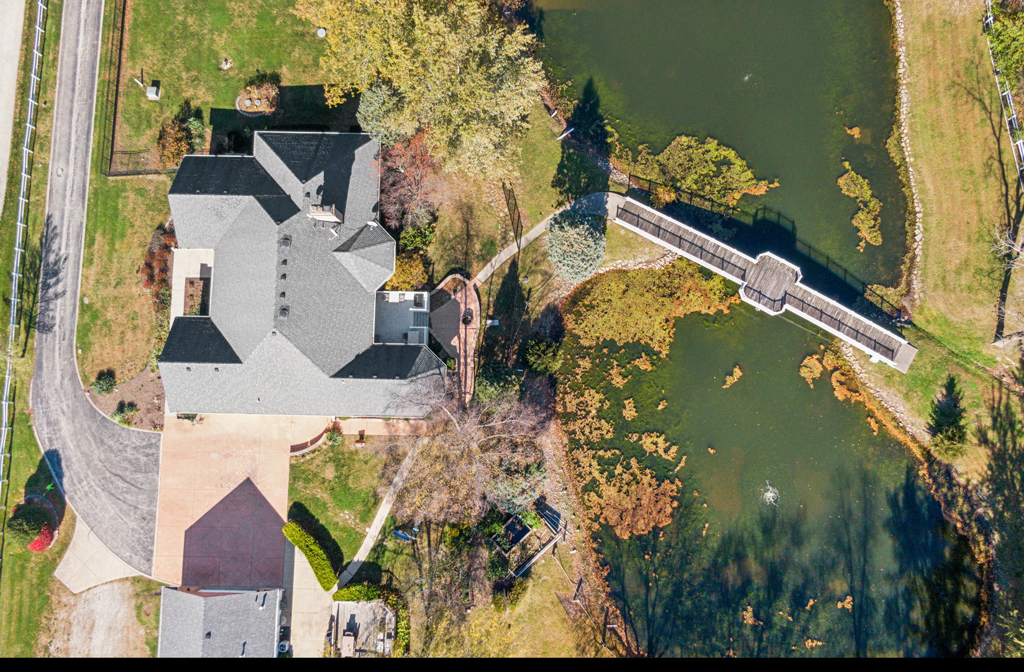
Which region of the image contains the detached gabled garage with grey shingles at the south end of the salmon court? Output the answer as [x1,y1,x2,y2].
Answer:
[157,581,288,672]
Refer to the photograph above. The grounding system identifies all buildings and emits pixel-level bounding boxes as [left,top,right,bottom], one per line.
[157,581,288,672]
[158,131,448,418]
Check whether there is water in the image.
Yes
